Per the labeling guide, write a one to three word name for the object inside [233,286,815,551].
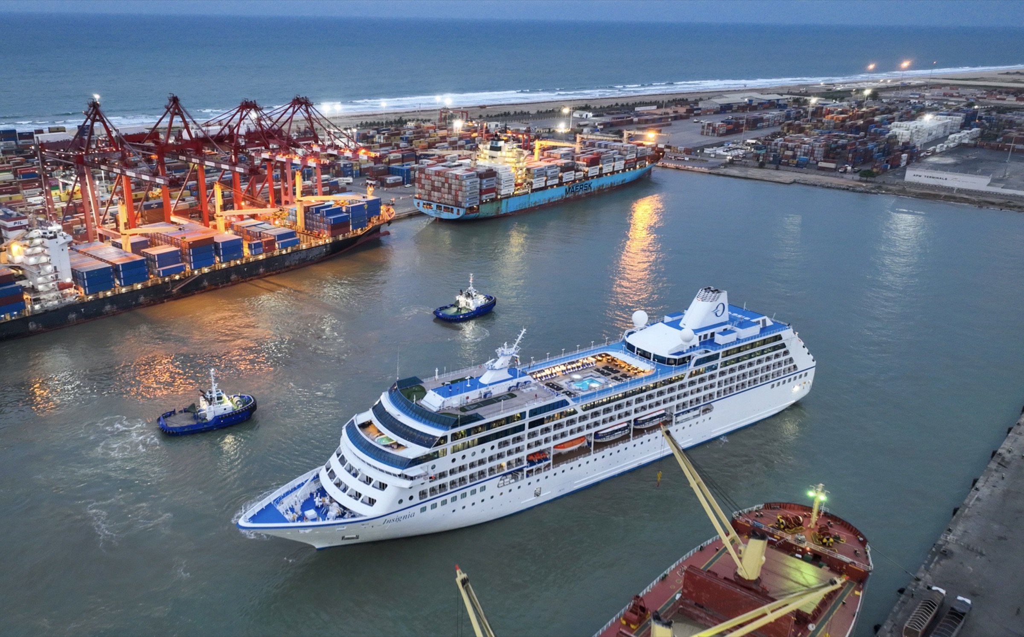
ship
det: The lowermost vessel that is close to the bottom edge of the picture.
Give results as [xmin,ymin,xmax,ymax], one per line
[601,424,874,637]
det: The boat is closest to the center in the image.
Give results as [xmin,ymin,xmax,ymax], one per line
[430,267,498,319]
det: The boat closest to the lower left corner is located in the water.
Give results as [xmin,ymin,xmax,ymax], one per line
[154,368,259,438]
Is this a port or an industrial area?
port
